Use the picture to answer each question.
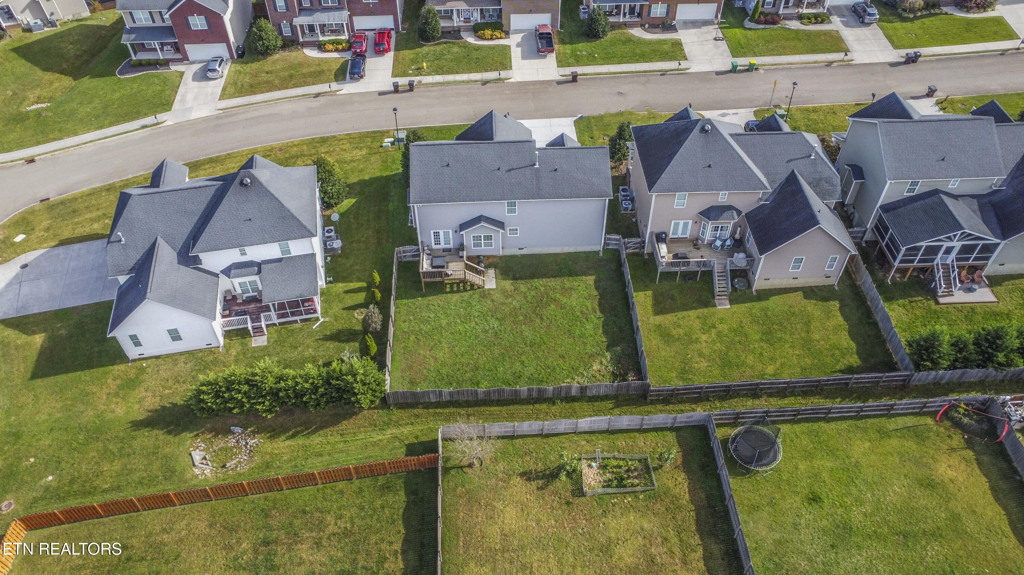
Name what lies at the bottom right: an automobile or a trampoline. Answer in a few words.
trampoline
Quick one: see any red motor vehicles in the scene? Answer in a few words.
Yes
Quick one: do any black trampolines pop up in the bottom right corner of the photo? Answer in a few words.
Yes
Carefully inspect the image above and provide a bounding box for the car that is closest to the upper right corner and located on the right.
[853,0,880,21]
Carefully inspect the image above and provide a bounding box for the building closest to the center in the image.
[403,106,613,291]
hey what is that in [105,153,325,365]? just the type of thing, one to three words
house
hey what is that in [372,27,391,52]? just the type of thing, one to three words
car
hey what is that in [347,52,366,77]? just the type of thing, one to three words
car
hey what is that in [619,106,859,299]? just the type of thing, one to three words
house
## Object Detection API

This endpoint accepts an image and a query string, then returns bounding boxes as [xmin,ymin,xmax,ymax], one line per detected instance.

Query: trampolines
[729,414,790,476]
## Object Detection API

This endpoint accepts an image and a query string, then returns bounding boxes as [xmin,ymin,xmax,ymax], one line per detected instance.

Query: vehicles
[372,27,391,52]
[740,113,762,131]
[853,0,880,21]
[347,52,366,77]
[536,24,555,53]
[350,28,367,52]
[203,52,228,76]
